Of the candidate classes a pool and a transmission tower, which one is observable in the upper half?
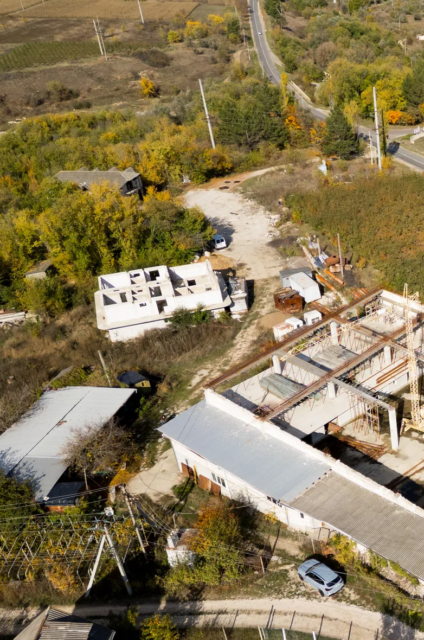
transmission tower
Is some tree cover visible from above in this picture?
Yes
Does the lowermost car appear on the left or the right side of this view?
right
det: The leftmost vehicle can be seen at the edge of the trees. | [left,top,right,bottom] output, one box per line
[216,232,229,248]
